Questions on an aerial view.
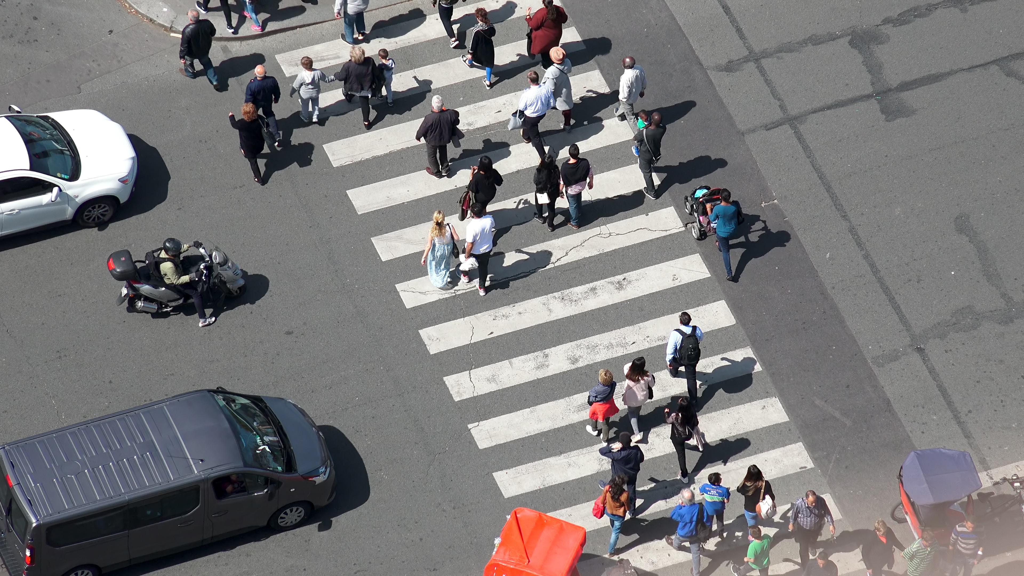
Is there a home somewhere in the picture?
No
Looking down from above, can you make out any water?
No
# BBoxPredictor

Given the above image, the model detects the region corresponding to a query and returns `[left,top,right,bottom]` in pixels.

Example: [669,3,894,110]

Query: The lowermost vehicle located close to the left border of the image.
[0,384,338,576]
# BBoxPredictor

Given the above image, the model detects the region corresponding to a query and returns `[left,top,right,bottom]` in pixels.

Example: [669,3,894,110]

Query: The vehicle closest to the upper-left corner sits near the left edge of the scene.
[0,101,143,243]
